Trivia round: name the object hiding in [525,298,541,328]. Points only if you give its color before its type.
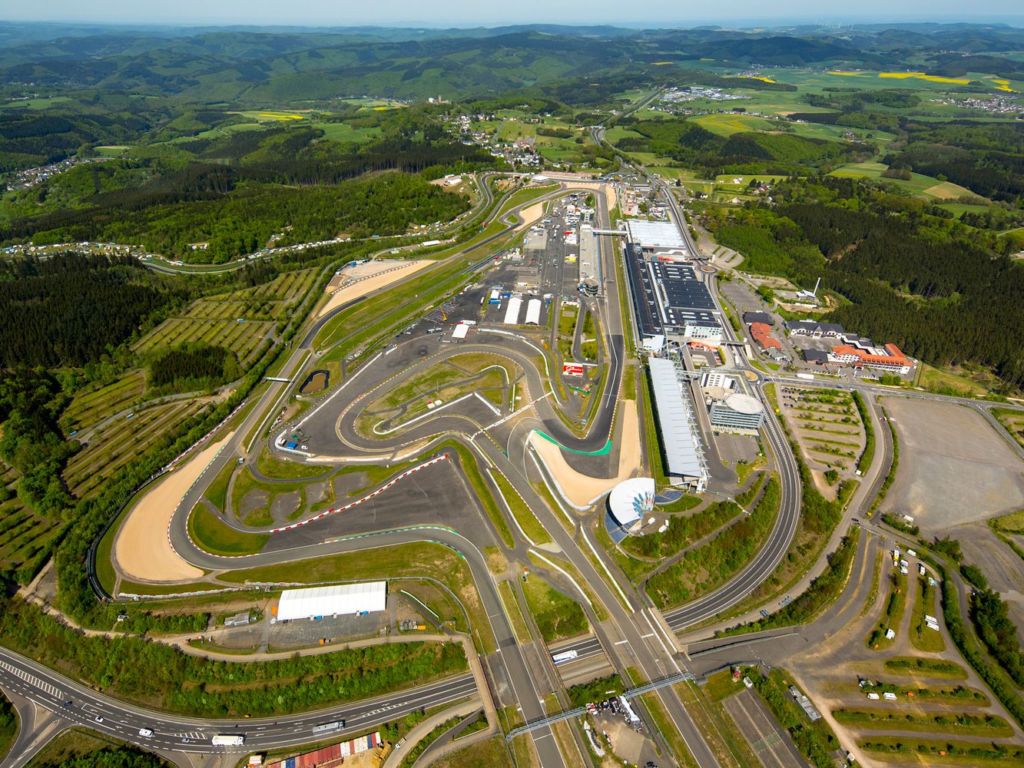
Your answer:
white tent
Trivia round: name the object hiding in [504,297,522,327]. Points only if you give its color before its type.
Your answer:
white tent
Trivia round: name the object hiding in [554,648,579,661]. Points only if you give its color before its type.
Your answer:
white vehicle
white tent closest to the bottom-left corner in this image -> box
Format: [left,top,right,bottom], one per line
[277,581,387,625]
